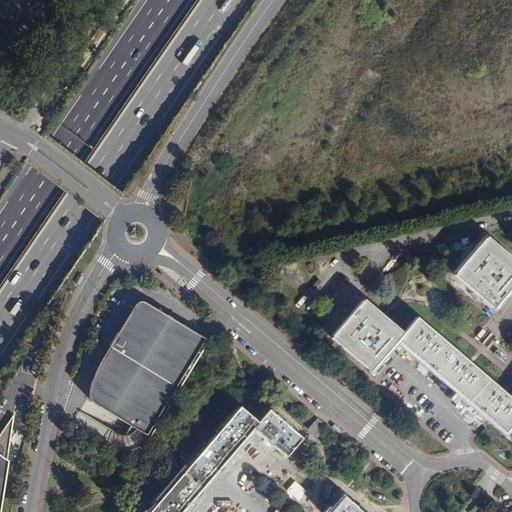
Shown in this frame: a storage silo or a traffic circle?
traffic circle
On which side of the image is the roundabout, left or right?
left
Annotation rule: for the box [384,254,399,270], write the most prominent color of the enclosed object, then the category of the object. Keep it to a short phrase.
white vehicle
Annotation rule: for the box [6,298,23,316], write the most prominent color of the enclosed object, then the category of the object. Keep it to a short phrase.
white vehicle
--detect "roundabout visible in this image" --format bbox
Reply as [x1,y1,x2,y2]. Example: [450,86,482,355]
[106,201,167,264]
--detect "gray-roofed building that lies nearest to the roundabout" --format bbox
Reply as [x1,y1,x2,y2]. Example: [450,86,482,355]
[90,302,204,432]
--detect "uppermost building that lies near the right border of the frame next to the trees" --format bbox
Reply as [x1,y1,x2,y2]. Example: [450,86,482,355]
[454,236,512,310]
